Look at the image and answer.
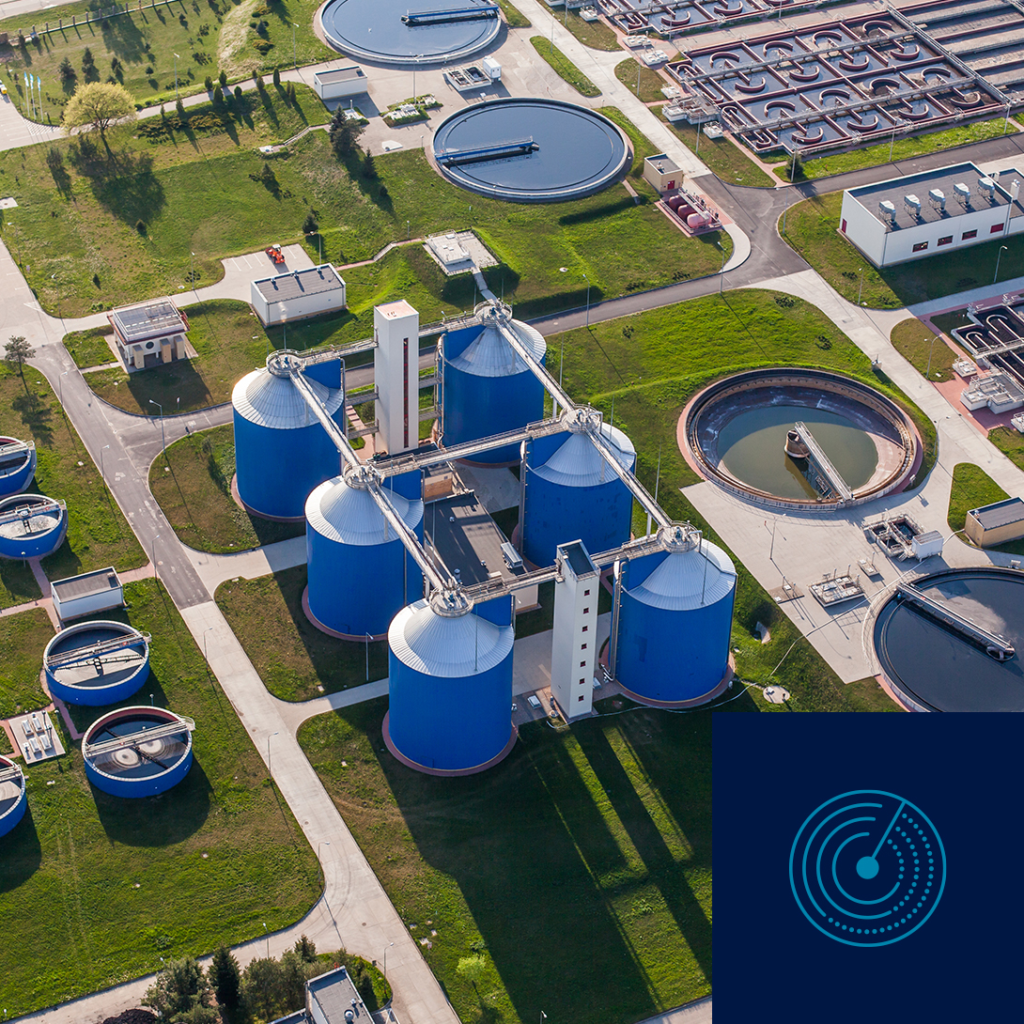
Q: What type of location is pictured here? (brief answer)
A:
industrial area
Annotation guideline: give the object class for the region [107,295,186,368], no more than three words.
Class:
building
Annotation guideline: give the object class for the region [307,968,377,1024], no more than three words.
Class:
building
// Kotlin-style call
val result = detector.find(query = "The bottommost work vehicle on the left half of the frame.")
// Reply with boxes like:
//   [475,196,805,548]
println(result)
[258,240,291,264]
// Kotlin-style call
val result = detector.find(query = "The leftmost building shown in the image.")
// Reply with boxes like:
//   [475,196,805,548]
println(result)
[49,564,125,620]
